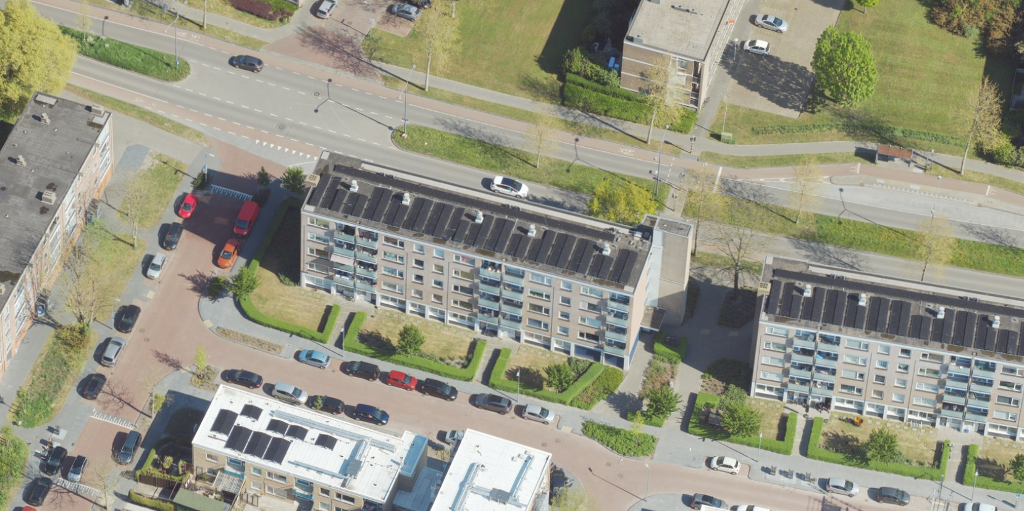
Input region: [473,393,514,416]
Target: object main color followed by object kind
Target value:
gray car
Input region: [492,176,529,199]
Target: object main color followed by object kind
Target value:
white car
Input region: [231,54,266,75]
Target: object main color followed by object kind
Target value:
gray car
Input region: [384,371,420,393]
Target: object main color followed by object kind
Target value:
red car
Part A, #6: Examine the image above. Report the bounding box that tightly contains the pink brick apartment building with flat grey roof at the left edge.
[0,90,115,376]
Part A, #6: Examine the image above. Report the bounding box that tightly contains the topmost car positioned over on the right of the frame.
[752,13,791,35]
